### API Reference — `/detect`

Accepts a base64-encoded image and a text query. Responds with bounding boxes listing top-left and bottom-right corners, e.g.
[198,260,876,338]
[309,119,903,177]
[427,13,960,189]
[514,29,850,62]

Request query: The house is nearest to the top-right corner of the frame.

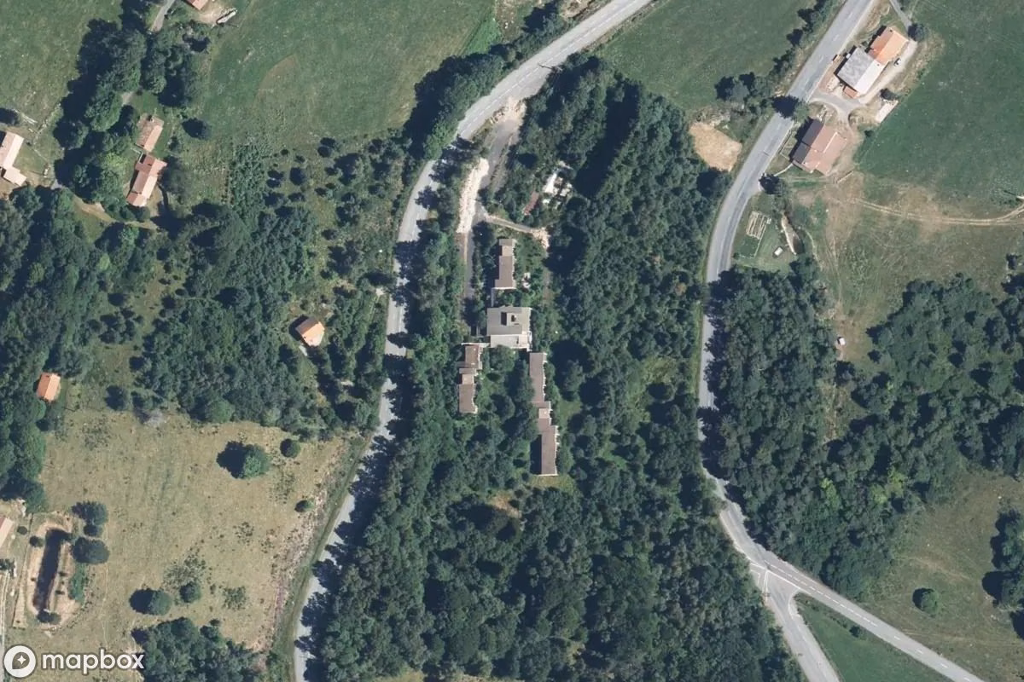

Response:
[870,26,908,66]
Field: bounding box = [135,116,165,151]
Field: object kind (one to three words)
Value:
barn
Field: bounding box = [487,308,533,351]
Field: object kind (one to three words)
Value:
building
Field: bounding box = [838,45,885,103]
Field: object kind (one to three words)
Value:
house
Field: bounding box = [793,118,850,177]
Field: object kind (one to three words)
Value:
barn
